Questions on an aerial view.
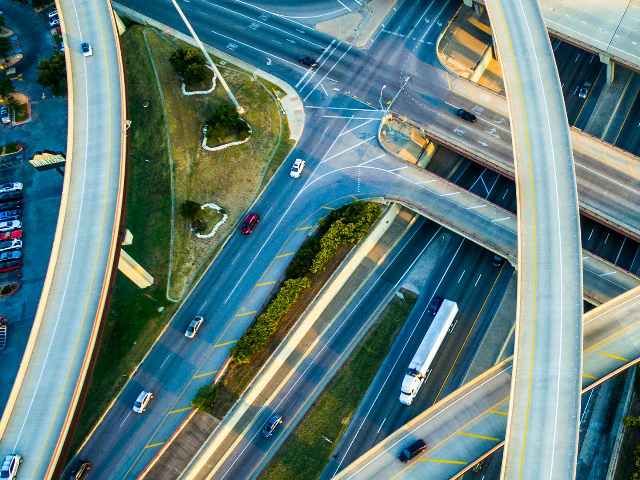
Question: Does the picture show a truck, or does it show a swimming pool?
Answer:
truck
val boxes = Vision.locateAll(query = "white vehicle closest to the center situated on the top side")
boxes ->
[289,158,304,178]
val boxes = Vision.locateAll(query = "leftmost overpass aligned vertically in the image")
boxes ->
[0,0,152,480]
